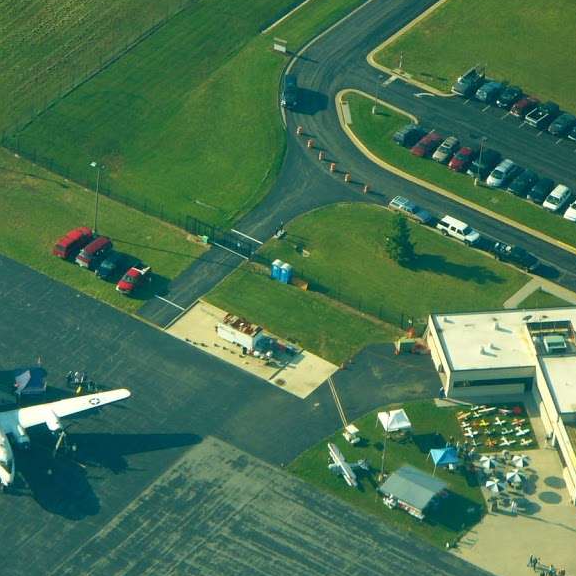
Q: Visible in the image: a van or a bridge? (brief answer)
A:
van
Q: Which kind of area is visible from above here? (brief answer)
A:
airport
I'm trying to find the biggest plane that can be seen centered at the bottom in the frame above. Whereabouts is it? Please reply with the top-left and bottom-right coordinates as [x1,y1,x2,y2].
[323,441,369,485]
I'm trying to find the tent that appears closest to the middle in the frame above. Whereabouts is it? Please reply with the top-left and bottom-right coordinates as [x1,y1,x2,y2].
[375,409,412,437]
